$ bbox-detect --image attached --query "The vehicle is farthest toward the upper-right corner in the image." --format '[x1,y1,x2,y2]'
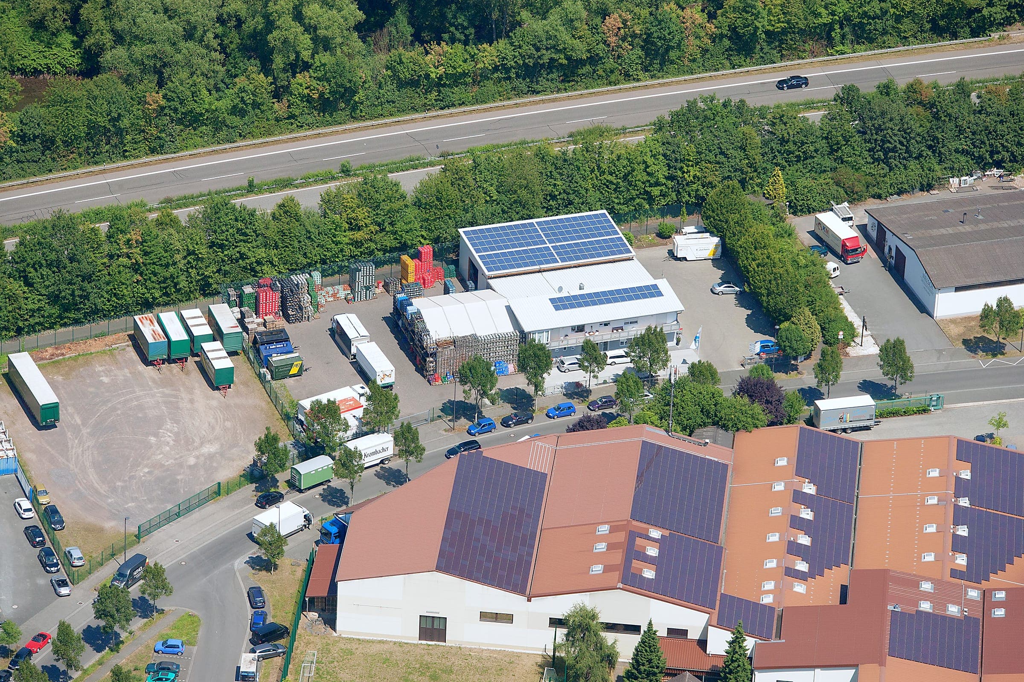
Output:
[776,73,810,89]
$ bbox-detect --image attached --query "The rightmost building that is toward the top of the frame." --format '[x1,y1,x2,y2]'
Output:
[864,192,1024,318]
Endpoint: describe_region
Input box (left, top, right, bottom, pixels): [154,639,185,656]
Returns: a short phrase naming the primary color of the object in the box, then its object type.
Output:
blue car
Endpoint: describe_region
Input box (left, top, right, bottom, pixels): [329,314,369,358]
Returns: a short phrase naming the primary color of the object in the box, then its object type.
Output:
white truck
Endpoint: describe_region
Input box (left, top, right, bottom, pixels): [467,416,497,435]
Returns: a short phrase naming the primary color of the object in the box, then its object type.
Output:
blue car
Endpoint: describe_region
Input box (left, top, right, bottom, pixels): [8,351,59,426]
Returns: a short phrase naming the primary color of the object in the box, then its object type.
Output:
white trailer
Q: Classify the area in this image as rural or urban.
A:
urban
